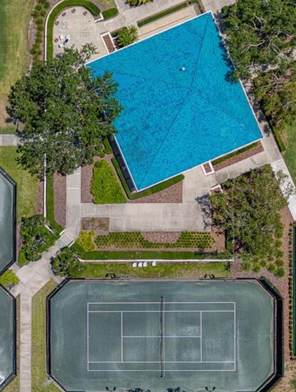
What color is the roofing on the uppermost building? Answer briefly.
blue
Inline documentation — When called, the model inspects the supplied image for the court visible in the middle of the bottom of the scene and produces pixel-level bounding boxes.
[50,279,275,392]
